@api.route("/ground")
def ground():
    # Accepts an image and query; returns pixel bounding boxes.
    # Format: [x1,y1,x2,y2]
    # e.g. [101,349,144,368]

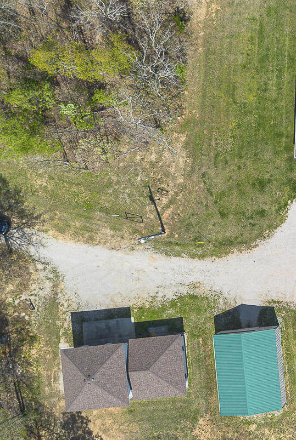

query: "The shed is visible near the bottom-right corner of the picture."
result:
[212,327,285,416]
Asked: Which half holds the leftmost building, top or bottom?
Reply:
bottom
